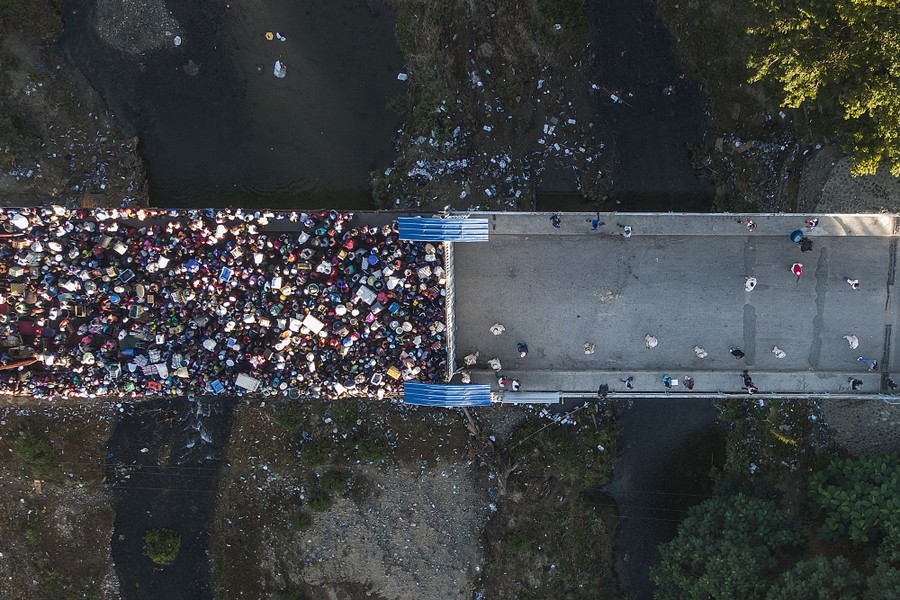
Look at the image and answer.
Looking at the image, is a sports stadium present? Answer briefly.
No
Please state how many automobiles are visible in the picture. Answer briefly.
zero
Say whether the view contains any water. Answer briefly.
Yes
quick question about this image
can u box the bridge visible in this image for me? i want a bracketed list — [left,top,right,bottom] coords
[0,210,900,404]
